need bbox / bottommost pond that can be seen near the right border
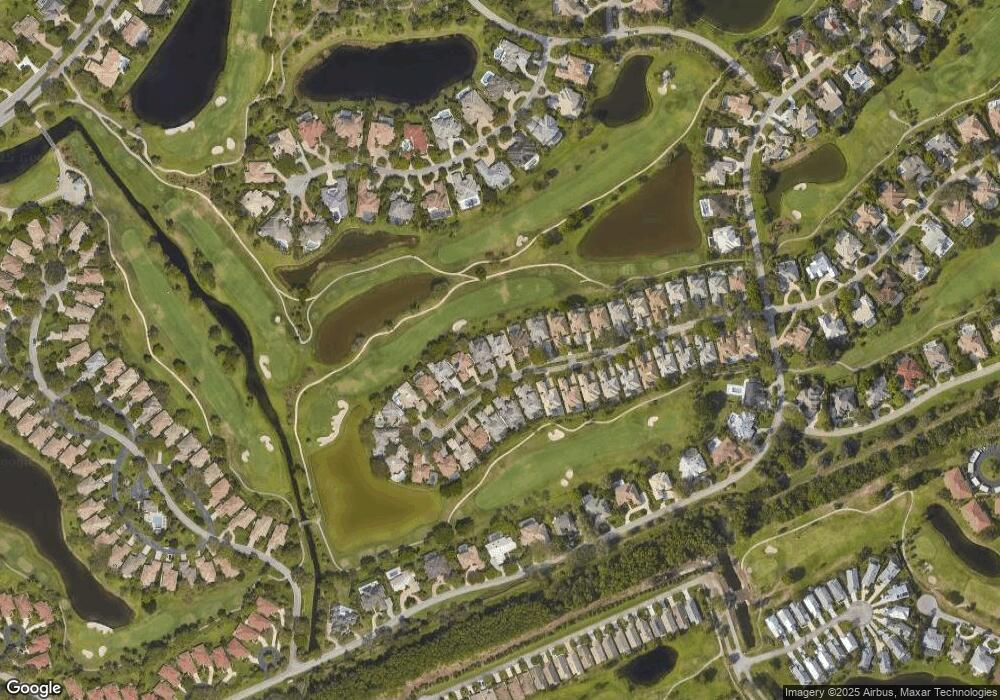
[836,672,976,700]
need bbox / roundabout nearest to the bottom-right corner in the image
[974,448,1000,488]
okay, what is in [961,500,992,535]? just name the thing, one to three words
building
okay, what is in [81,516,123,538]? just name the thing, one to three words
house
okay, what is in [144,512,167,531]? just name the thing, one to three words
swimming pool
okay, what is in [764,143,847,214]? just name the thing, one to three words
pond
